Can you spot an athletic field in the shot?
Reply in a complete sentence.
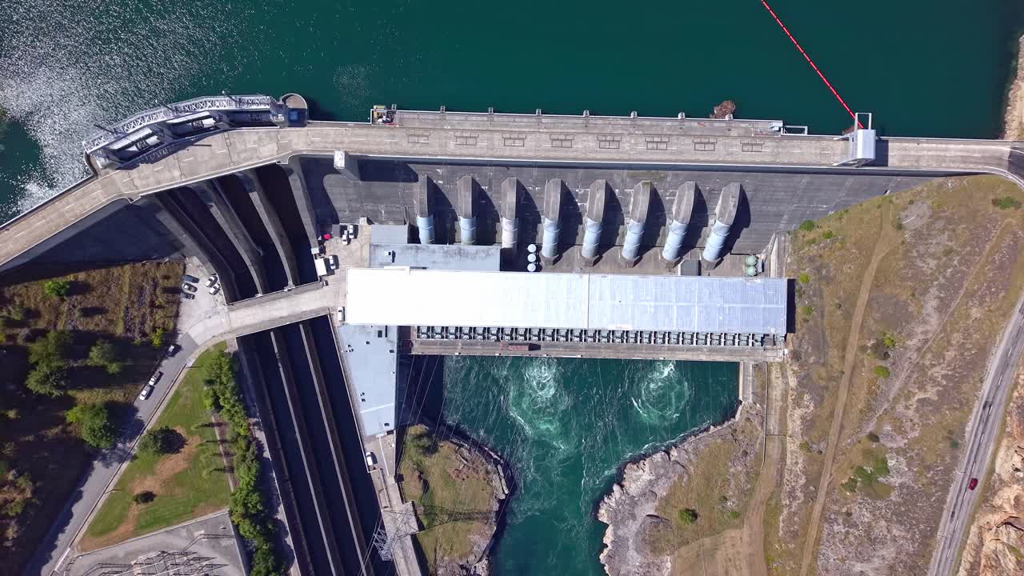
No, I can see no athletic field in this picture.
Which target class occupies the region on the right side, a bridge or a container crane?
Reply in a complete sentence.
Visible on the right side is a container crane.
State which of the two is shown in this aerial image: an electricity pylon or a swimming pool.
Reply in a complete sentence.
The one in the frame is an electricity pylon.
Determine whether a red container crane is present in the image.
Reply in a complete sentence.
No, no red container crane can be seen from above.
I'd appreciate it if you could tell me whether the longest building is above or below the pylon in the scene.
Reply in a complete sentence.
From this view, the longest building can be seen above the pylon.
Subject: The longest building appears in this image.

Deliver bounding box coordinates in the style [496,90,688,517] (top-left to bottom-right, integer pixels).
[345,268,788,362]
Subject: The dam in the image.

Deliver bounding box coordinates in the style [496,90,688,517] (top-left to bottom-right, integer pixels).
[0,92,1024,287]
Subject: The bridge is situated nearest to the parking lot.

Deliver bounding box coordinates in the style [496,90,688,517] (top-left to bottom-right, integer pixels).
[227,281,333,336]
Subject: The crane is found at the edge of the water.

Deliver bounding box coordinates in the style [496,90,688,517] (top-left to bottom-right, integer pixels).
[832,112,880,165]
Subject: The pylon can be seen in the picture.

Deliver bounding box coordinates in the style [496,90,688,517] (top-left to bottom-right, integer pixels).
[374,506,415,557]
